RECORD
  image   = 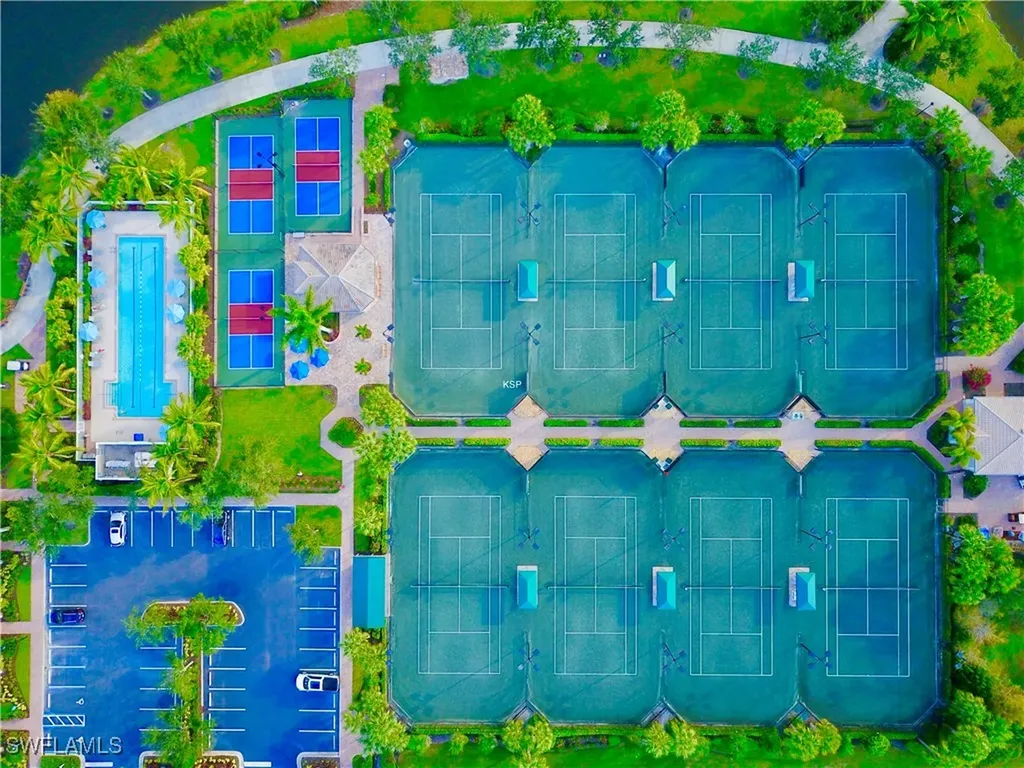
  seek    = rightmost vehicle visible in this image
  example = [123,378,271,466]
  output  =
[296,672,340,693]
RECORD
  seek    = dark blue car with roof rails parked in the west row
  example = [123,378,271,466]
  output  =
[50,609,87,627]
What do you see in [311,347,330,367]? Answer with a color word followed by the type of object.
blue umbrella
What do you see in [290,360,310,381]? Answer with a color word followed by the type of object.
blue umbrella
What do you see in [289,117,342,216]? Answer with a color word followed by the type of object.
blue sports court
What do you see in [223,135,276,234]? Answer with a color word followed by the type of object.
blue sports court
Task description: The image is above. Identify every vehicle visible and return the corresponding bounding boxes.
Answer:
[5,361,30,371]
[109,510,128,547]
[296,672,340,693]
[212,510,231,547]
[50,609,87,627]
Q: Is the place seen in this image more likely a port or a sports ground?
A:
sports ground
